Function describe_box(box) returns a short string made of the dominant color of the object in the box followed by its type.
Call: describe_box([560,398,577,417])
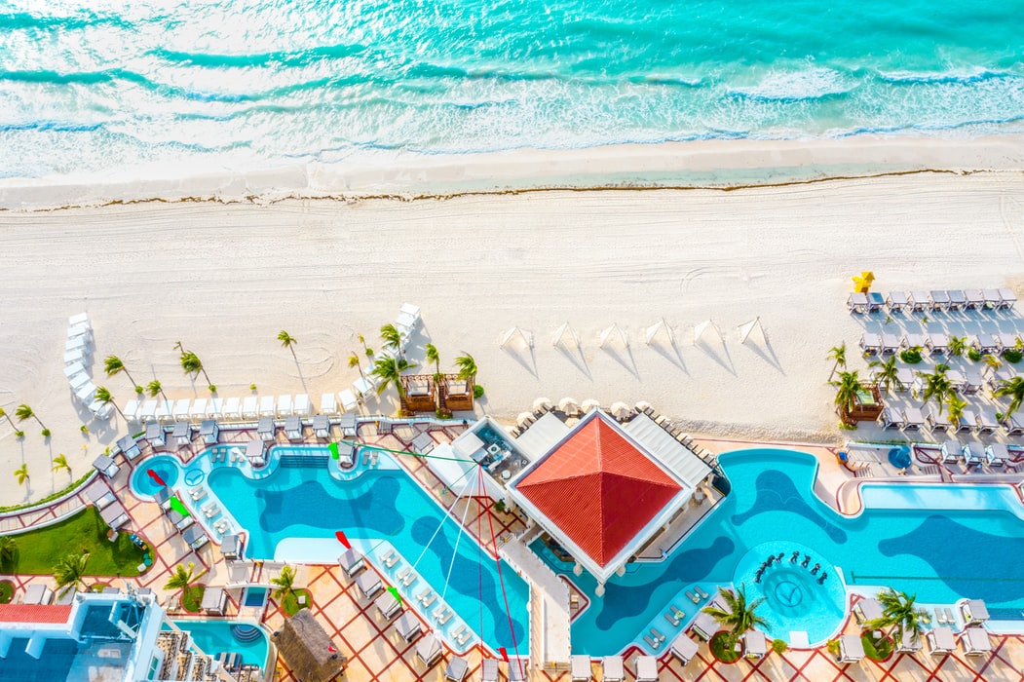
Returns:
white umbrella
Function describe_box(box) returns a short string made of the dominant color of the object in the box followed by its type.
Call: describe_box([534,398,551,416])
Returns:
white umbrella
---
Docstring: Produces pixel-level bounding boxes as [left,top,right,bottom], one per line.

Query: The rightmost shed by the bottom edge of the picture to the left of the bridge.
[271,607,347,682]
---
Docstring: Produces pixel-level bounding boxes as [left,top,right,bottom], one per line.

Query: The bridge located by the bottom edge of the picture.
[493,538,571,671]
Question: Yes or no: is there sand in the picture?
Yes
